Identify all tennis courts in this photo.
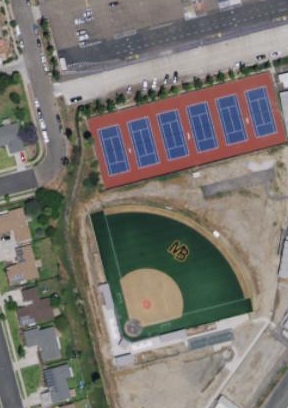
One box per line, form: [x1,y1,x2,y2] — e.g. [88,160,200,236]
[187,102,218,152]
[158,110,188,160]
[216,94,248,145]
[246,87,277,138]
[98,125,130,176]
[128,118,160,168]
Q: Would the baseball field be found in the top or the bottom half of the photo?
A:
bottom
